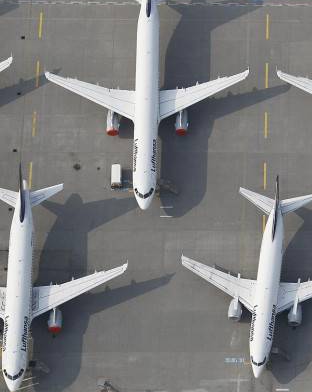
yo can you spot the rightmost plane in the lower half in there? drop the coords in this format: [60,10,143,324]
[181,177,312,378]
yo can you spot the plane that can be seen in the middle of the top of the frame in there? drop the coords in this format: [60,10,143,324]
[46,0,250,210]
